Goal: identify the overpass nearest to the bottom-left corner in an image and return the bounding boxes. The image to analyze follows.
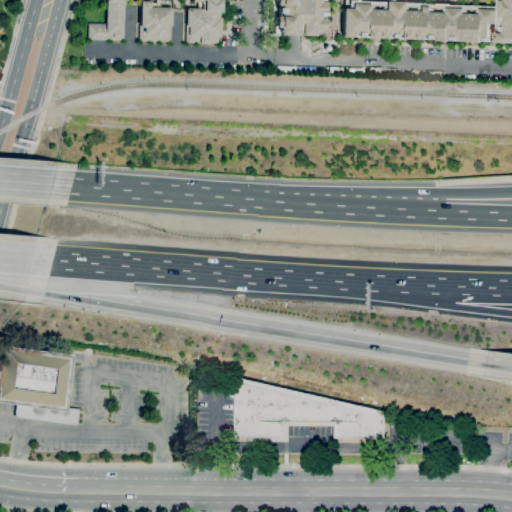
[0,234,58,304]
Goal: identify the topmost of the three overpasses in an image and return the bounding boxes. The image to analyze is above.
[0,158,76,206]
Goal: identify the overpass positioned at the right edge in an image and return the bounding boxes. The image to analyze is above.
[468,348,512,385]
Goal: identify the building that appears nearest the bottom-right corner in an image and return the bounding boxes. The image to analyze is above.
[234,378,386,442]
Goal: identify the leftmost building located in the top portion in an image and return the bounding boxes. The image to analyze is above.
[88,0,126,42]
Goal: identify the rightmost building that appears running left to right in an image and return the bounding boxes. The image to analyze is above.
[346,2,499,42]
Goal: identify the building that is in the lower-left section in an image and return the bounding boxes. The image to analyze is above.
[0,348,73,411]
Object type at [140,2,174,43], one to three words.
building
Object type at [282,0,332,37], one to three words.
building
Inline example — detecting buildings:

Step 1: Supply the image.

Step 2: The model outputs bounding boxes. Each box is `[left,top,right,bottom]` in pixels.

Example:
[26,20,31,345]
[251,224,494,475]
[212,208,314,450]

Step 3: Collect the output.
[282,0,332,37]
[0,348,73,411]
[234,378,386,442]
[346,2,499,42]
[186,0,226,46]
[140,2,174,43]
[88,0,126,42]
